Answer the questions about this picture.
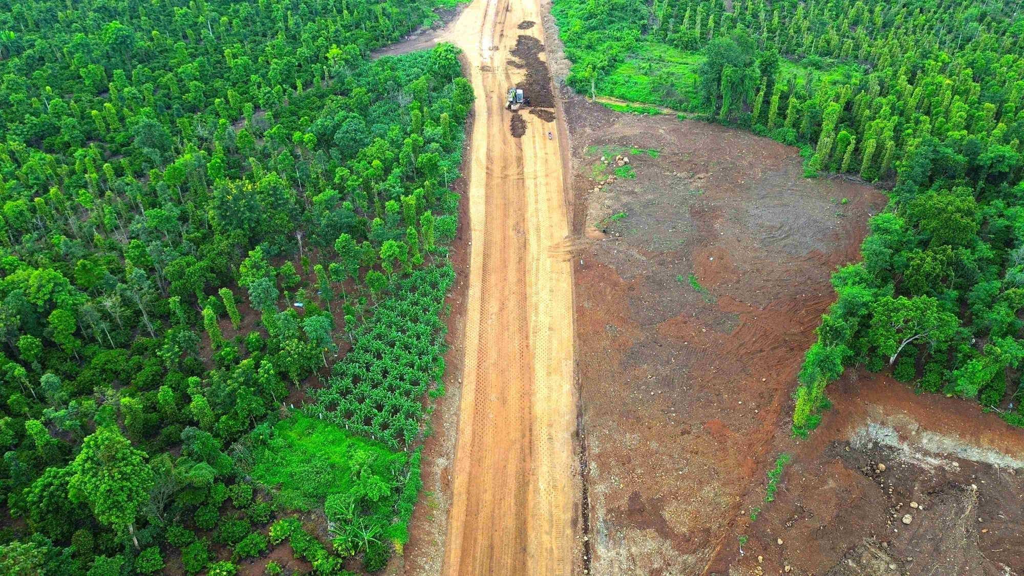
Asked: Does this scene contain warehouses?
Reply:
No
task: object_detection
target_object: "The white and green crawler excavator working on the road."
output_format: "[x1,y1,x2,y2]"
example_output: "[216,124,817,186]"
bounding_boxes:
[507,81,523,108]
